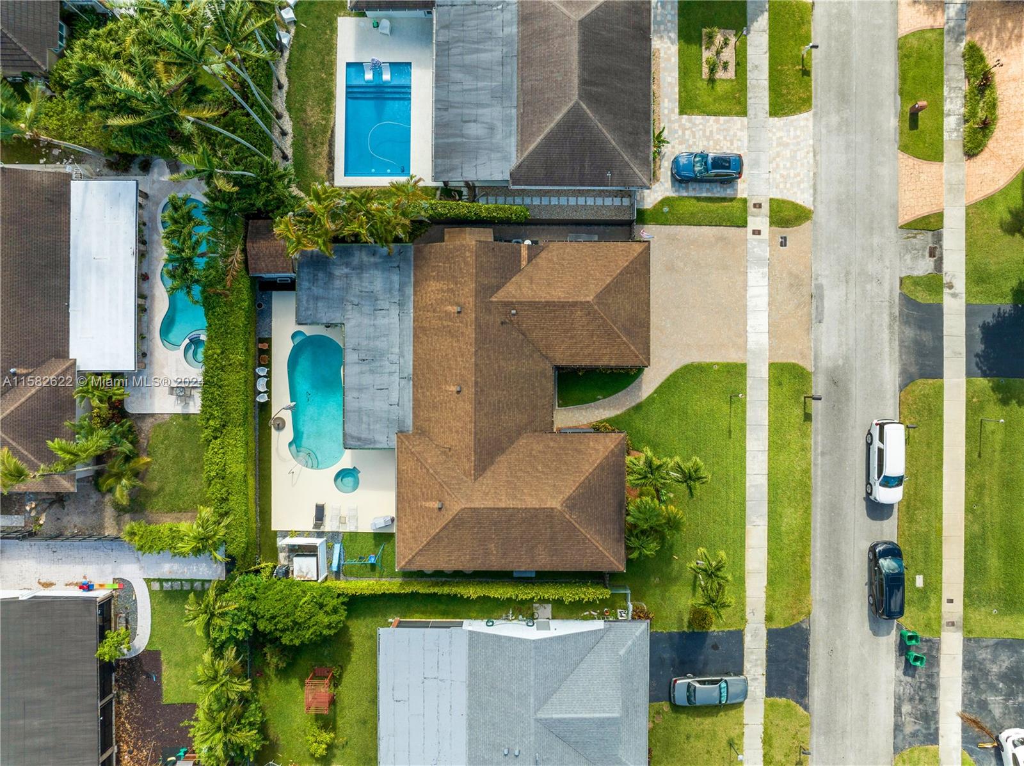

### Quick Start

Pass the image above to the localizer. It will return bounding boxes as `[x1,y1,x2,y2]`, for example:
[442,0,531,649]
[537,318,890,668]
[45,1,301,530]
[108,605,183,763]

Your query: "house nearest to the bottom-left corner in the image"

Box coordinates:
[0,577,115,766]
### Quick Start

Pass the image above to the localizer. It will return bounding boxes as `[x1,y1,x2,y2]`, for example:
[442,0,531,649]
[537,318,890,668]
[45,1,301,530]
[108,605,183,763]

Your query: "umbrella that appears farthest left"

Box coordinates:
[270,402,297,429]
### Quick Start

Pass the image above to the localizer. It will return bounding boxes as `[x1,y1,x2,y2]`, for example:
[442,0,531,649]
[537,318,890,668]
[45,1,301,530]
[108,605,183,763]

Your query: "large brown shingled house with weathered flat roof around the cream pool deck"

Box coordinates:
[295,228,652,578]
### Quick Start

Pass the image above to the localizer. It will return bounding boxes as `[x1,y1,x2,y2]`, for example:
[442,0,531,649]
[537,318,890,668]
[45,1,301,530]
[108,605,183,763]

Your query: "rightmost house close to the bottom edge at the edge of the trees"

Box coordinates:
[376,618,651,766]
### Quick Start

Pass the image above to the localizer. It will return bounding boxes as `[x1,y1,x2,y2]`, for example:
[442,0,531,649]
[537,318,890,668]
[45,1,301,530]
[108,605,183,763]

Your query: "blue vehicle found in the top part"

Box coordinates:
[671,144,748,183]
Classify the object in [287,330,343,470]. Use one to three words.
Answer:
swimming pool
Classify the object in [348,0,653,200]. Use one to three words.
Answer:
house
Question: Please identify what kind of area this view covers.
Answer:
residential area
